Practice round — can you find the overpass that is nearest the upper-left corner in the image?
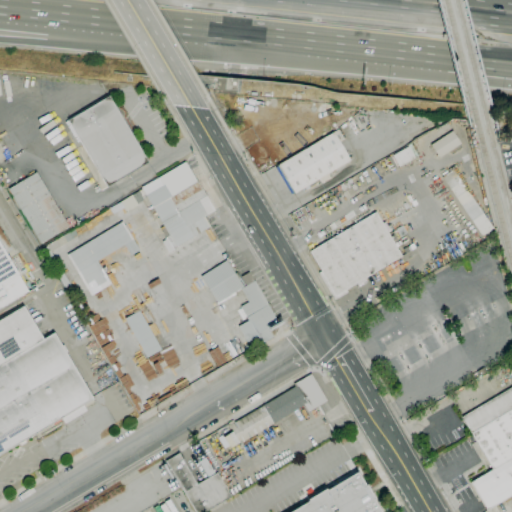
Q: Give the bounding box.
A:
[105,0,230,128]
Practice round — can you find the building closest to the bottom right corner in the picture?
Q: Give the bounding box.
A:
[470,456,512,510]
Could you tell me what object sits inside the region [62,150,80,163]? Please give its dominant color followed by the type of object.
white vehicle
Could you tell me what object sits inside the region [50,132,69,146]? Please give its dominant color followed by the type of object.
white vehicle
